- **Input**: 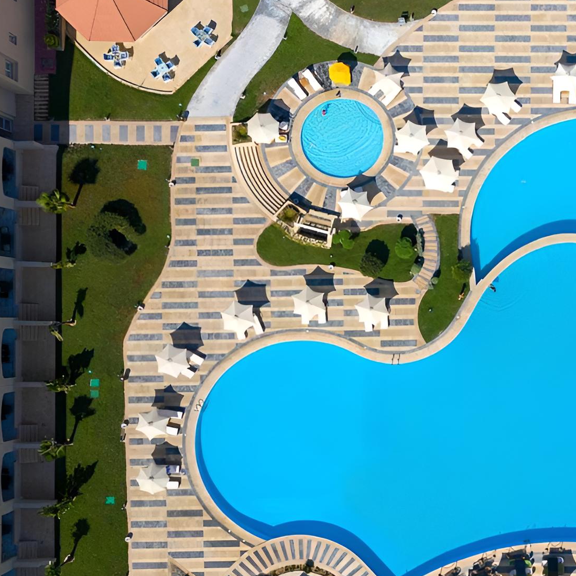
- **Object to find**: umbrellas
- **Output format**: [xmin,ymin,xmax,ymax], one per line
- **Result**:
[243,107,284,149]
[548,56,576,95]
[481,77,519,114]
[156,341,193,376]
[337,183,372,220]
[136,402,171,440]
[394,118,431,156]
[443,114,482,151]
[370,60,406,100]
[329,64,353,88]
[221,295,257,336]
[421,156,460,190]
[354,287,389,329]
[289,282,329,320]
[139,457,174,496]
